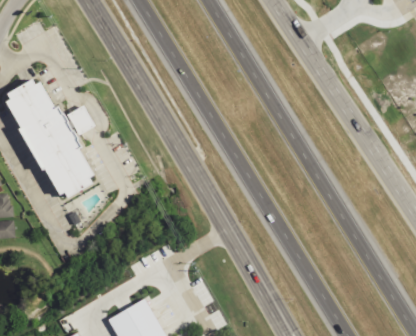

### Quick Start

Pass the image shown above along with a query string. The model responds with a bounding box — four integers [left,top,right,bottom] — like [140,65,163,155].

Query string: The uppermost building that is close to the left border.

[6,80,98,198]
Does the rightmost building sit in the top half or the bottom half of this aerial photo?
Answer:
bottom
